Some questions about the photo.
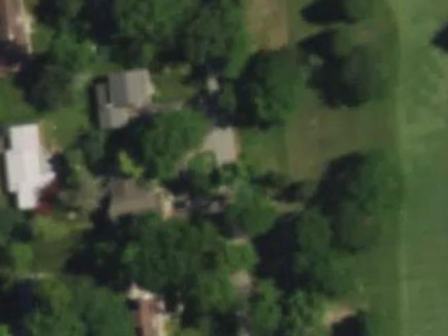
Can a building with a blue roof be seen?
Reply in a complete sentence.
No, this view has no building with a blue roof in it.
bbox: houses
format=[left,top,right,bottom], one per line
[0,0,32,77]
[5,123,57,210]
[94,66,154,131]
[128,285,166,336]
[106,174,174,215]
